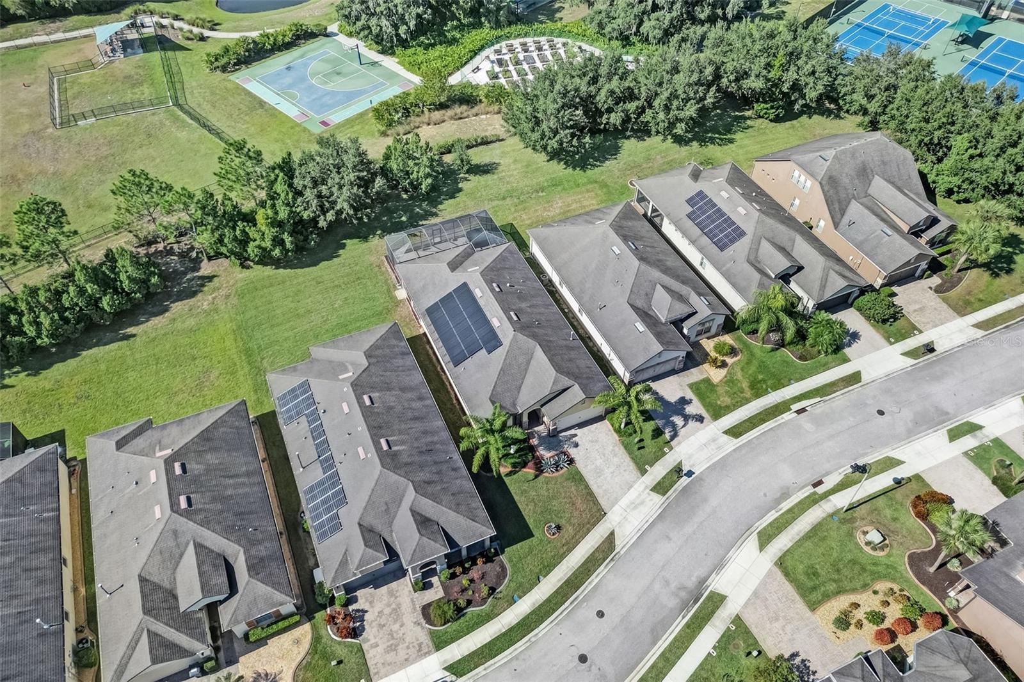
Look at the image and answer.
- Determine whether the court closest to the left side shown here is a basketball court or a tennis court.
basketball court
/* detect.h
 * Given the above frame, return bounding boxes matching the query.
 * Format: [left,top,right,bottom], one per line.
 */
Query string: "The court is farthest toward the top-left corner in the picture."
[229,35,405,133]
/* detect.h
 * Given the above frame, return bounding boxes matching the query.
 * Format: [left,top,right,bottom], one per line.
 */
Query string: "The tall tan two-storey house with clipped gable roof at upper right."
[753,131,959,289]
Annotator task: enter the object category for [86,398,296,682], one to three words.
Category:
house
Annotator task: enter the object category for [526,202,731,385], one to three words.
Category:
house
